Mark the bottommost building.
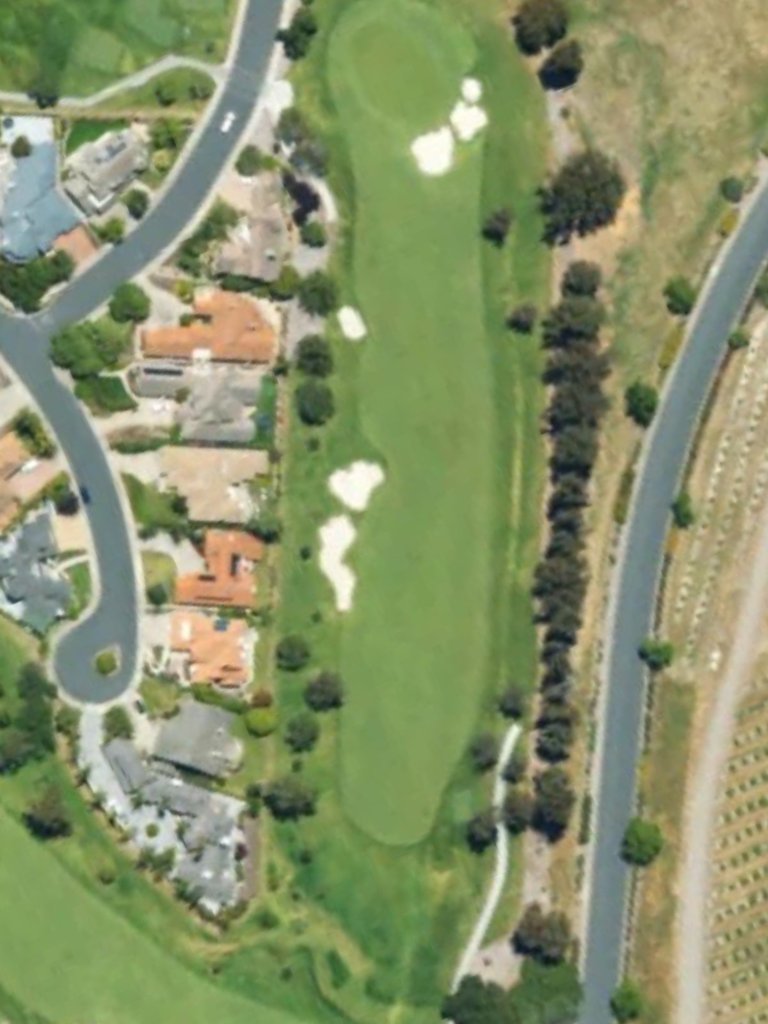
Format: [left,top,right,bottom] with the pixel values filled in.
[102,735,236,900]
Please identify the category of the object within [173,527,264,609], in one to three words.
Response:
house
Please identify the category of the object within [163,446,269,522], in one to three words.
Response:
house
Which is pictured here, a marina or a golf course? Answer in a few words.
golf course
